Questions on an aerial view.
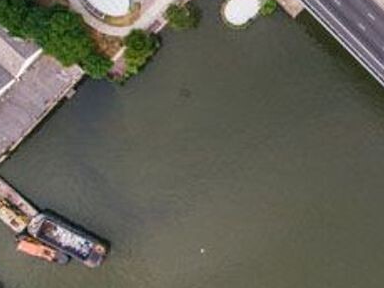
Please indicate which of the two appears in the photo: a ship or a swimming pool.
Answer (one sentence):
Visible in the photo is a ship.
